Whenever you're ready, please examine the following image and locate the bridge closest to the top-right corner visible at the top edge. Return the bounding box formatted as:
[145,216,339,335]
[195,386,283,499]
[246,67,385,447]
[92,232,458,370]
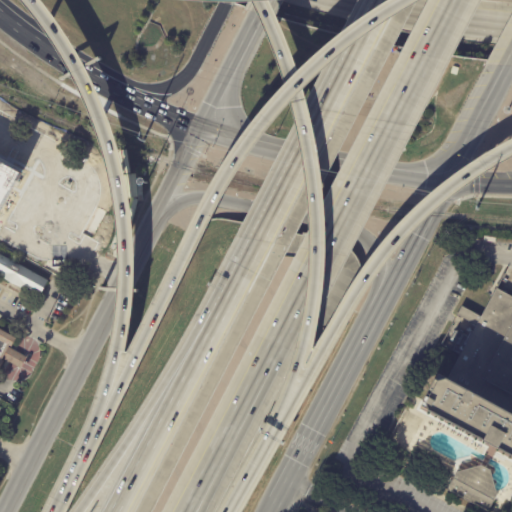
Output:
[485,18,512,64]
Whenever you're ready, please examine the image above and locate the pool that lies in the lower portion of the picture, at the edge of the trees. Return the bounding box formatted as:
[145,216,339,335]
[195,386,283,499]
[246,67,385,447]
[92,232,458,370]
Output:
[430,433,509,492]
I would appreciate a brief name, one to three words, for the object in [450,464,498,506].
building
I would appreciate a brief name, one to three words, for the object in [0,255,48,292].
building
